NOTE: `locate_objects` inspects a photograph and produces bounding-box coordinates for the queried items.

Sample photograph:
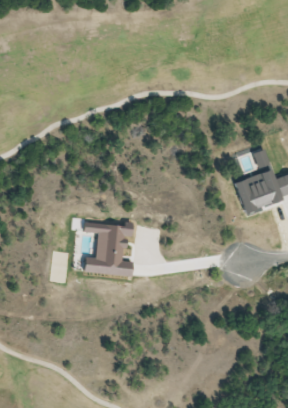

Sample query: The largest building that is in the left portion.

[84,222,134,277]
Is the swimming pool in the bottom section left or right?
left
